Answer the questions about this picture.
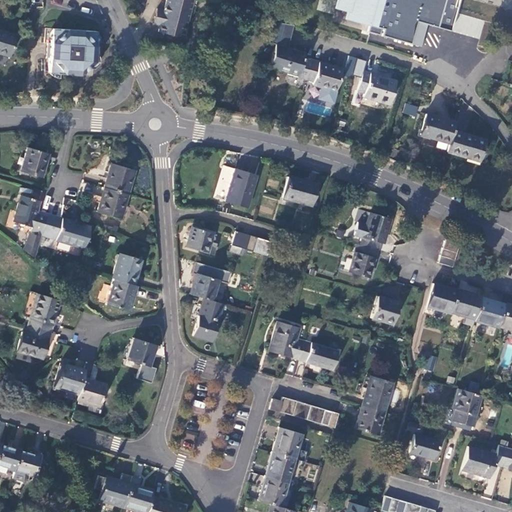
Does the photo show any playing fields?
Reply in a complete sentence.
No, the scene contains no playing field.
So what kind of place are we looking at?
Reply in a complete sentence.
The picture captures a residential area.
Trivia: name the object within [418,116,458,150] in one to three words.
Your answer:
house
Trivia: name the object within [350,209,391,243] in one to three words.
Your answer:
house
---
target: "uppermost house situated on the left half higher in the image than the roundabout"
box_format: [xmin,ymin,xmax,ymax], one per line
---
[149,0,194,41]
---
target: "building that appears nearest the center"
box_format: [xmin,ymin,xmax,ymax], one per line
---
[228,232,270,258]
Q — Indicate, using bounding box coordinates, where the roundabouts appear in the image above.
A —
[132,102,176,146]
